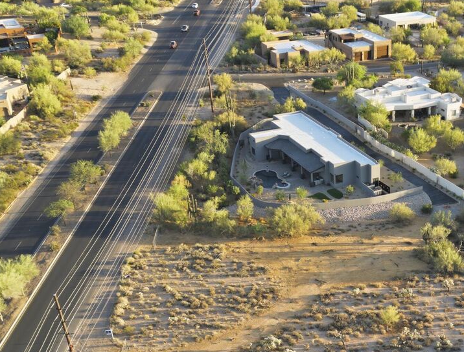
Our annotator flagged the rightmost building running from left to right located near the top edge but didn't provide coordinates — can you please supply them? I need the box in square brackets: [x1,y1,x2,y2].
[379,11,436,31]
